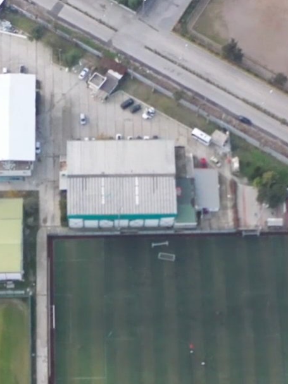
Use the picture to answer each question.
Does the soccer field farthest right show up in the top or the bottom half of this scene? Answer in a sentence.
The soccer field farthest right is in the bottom half of the image.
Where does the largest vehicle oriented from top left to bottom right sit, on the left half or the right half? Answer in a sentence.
The largest vehicle oriented from top left to bottom right sits on the right side.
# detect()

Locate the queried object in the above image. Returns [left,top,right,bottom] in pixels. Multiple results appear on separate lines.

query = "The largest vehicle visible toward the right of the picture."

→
[188,124,212,145]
